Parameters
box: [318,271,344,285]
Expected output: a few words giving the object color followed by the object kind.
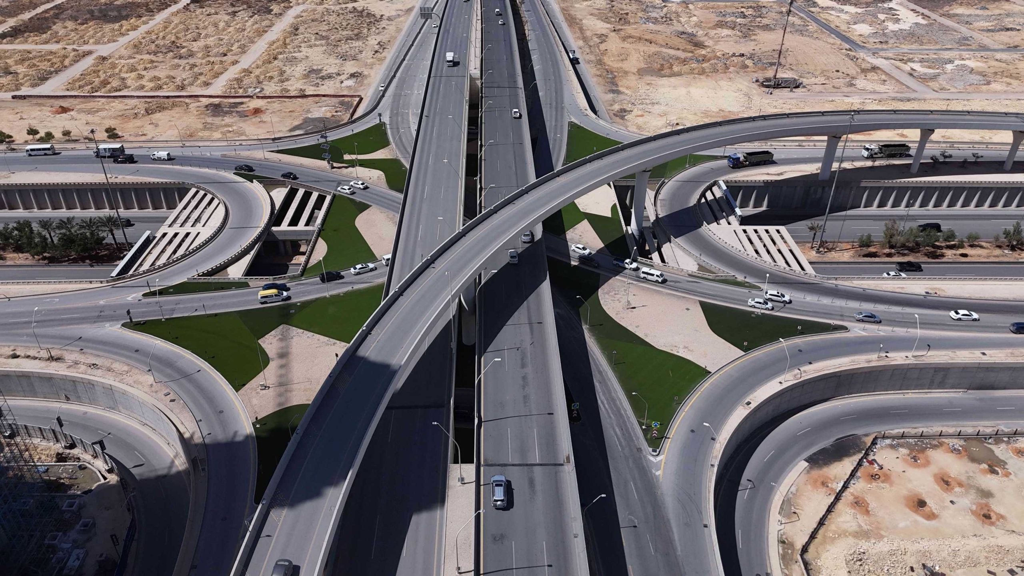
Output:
black car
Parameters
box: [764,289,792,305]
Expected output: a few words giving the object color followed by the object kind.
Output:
white car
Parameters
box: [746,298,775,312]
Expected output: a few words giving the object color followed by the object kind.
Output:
white car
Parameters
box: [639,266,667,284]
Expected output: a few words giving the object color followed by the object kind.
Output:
white vehicle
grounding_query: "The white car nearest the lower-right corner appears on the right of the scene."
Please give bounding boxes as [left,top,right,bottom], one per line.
[948,309,981,322]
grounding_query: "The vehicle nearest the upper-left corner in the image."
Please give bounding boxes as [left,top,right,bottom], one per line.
[25,144,57,157]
